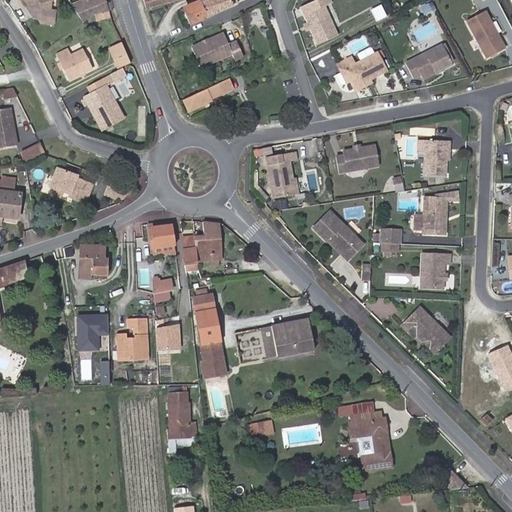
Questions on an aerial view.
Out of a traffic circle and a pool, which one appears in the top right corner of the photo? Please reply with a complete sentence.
The one visible in the top right corner of the photo is a pool.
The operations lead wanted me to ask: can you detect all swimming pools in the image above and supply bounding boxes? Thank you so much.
[397,191,420,212]
[301,169,320,195]
[32,168,44,180]
[408,2,444,50]
[205,376,234,416]
[503,102,512,124]
[282,423,322,449]
[398,135,418,160]
[338,36,368,58]
[385,272,412,288]
[500,281,512,293]
[140,268,149,286]
[343,206,366,221]
[0,345,26,384]
[112,78,131,101]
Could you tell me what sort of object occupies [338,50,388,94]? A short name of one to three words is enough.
house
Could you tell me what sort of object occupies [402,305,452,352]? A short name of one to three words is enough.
house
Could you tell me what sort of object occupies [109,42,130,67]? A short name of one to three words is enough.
building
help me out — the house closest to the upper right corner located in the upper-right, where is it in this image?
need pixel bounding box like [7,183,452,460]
[466,10,506,58]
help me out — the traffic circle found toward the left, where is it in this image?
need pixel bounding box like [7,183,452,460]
[149,128,238,216]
